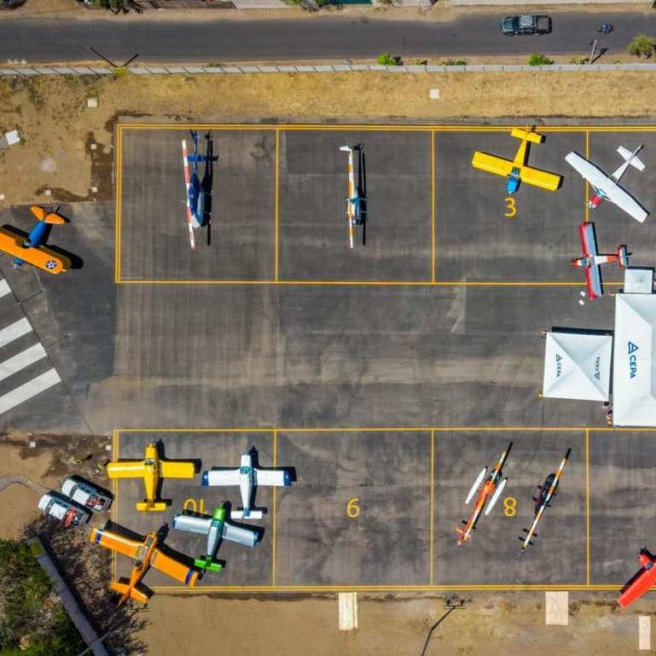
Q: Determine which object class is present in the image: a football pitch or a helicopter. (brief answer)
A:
helicopter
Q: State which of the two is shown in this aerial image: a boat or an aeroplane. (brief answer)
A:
aeroplane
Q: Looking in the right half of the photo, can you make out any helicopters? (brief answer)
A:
Yes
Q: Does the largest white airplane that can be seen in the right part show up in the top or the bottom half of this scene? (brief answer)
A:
top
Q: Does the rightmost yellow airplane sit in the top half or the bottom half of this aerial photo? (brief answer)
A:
top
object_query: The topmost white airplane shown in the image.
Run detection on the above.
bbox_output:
[566,148,648,223]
